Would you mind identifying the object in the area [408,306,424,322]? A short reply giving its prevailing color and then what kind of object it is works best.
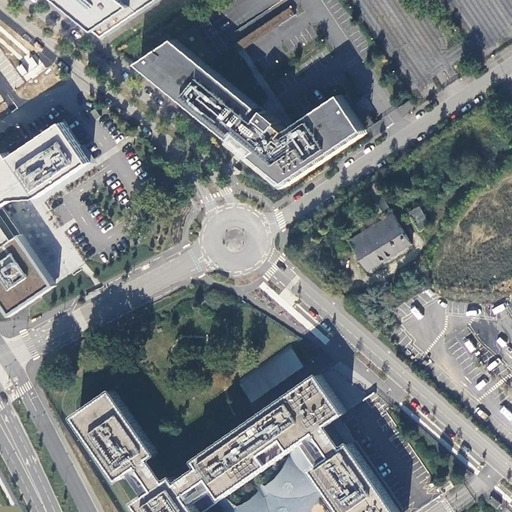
white vehicle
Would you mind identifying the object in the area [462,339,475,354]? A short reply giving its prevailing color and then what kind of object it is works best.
white vehicle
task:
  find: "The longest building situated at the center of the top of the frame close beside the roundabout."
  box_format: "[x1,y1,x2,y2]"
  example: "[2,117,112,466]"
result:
[131,40,368,190]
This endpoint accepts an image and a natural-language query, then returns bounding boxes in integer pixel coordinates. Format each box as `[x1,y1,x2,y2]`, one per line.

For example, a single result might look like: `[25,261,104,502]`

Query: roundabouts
[198,203,273,278]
